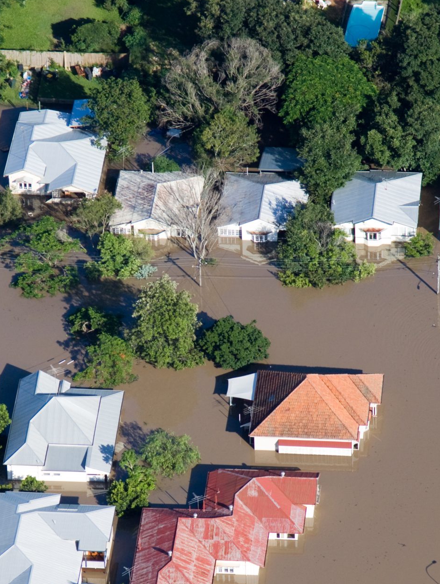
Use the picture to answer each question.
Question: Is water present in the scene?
Yes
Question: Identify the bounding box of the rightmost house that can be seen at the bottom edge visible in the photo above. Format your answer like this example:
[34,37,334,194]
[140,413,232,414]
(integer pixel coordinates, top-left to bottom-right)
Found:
[120,469,321,584]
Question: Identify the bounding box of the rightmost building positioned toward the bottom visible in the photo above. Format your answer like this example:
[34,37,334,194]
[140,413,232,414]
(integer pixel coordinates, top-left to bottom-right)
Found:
[241,370,385,456]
